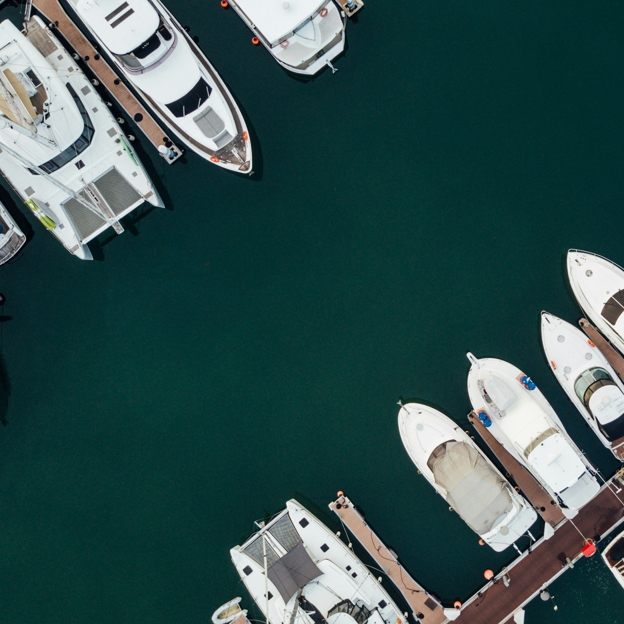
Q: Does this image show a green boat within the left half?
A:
Yes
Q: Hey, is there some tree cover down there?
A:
No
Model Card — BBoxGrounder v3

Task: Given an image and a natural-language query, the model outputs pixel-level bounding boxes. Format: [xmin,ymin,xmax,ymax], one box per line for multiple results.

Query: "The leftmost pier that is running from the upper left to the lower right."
[29,0,184,165]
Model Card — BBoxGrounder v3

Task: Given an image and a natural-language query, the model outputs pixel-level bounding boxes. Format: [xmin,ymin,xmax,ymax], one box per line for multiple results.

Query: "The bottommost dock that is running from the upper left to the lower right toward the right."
[332,495,460,624]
